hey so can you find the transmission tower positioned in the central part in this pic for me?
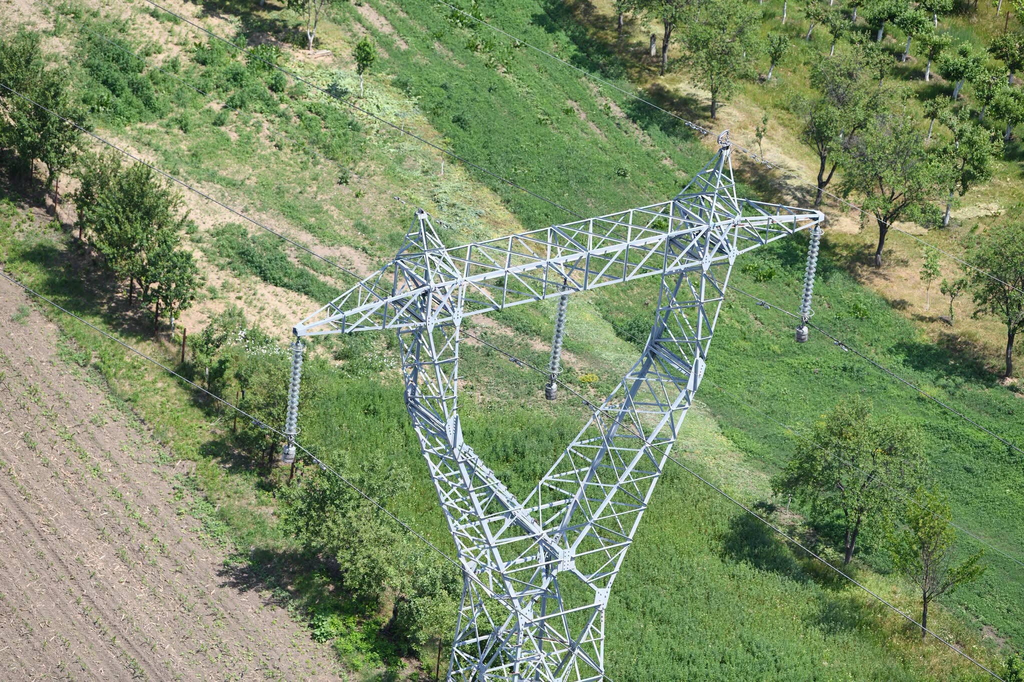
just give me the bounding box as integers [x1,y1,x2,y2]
[292,139,826,682]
